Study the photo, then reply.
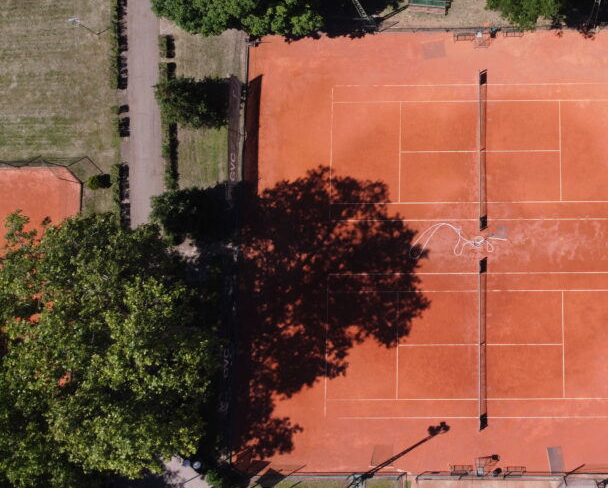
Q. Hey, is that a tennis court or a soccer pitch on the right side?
tennis court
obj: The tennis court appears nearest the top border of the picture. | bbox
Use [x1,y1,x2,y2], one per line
[242,27,608,248]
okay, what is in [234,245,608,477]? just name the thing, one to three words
tennis court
